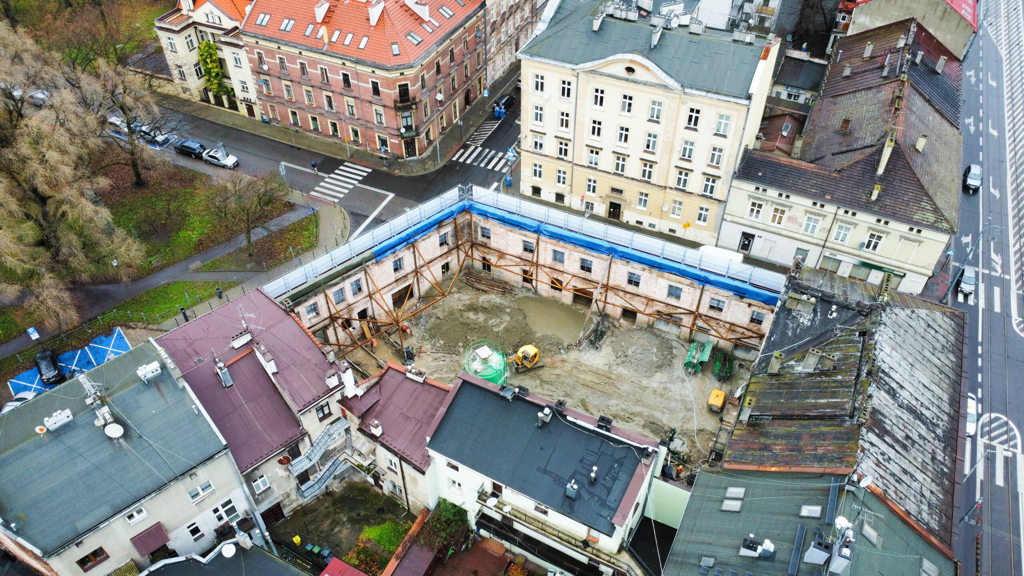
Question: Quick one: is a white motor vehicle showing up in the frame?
Yes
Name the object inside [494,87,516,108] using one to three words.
car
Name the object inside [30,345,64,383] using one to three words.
car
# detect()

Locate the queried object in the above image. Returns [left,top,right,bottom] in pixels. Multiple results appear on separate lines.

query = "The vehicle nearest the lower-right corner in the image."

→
[965,392,988,437]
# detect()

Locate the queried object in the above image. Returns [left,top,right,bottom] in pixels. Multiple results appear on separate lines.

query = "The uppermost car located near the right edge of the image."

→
[964,162,985,189]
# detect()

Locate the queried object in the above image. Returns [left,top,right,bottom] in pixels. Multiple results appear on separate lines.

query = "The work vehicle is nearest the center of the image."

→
[504,339,544,370]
